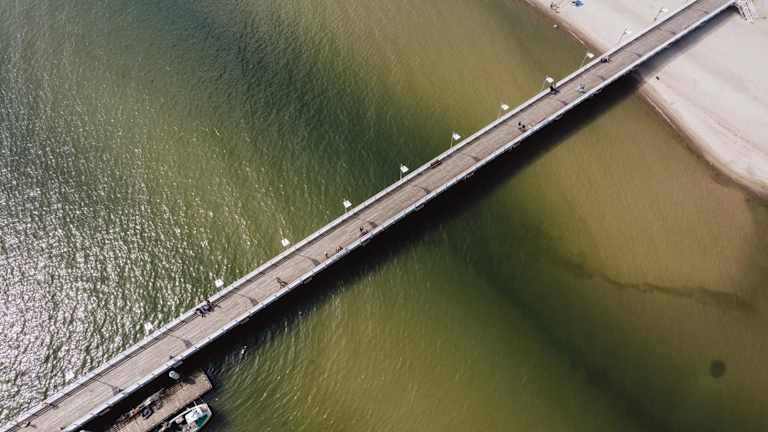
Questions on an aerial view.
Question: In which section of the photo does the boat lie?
bottom left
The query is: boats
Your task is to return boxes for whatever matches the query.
[158,404,212,432]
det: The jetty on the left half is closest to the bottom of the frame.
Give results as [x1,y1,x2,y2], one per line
[104,368,214,432]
